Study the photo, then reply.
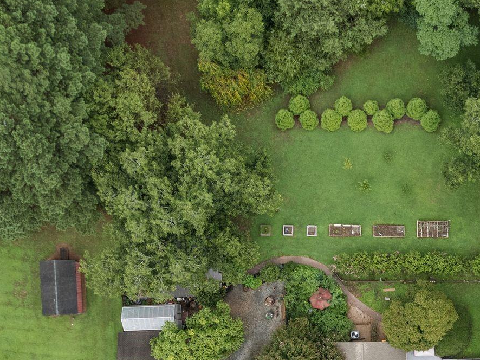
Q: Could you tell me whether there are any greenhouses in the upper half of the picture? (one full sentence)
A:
No, I see no greenhouse in the upper half of the picture.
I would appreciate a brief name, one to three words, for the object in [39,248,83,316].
shed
